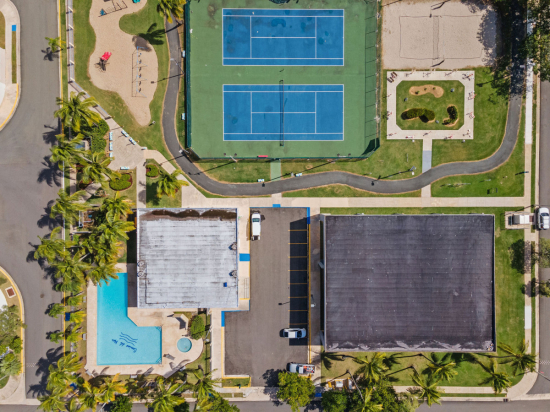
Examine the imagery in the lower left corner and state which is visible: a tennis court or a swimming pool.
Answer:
swimming pool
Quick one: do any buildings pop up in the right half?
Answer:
Yes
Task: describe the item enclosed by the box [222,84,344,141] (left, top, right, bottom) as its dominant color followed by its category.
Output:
blue tennis court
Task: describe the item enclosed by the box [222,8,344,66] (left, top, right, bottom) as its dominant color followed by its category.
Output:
blue tennis court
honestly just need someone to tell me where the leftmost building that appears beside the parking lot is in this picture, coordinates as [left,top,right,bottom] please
[136,208,238,308]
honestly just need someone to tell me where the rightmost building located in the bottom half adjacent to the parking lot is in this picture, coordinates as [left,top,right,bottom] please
[316,209,495,351]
